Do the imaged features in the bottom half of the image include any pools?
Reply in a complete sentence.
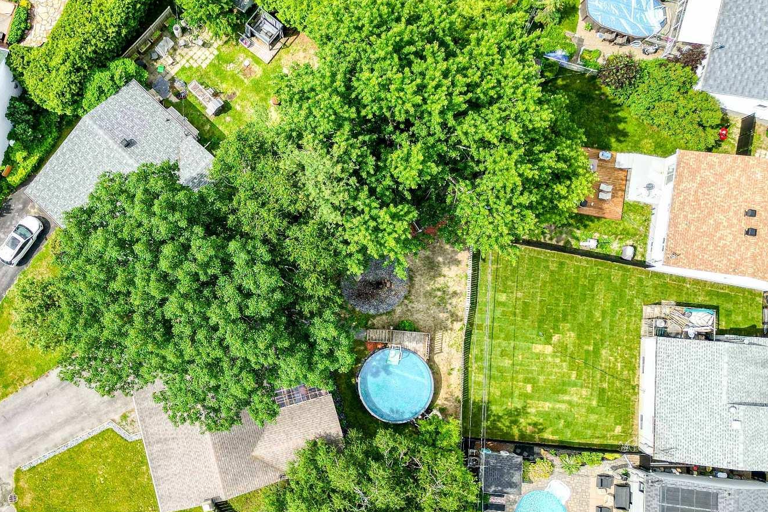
Yes, a pool appears in the bottom half of the image.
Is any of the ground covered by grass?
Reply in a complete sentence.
Yes, the picture does contain grass.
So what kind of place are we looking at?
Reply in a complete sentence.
It's a residential area.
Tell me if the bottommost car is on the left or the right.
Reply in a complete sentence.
The bottommost car sits on the left side.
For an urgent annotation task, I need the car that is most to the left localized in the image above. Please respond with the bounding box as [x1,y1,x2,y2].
[0,211,46,269]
